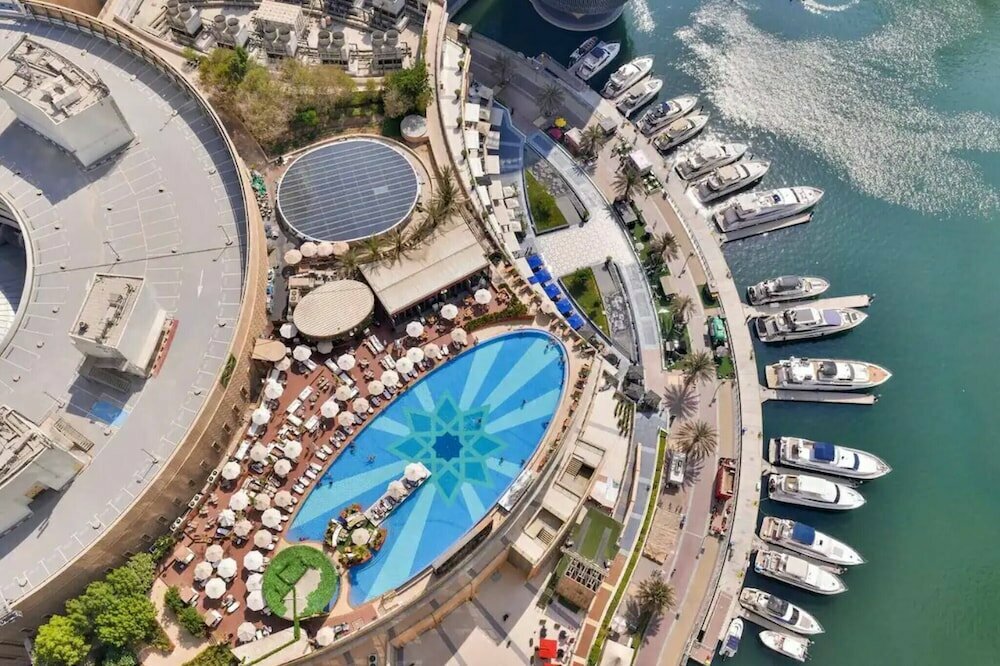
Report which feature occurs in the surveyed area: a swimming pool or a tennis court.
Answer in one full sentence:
Looking from above, you can make out a swimming pool.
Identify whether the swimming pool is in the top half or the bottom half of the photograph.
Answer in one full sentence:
Seen from above, the swimming pool lies in the bottom half of the view.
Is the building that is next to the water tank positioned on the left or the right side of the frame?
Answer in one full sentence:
You can find the building that is next to the water tank on the left side of the picture.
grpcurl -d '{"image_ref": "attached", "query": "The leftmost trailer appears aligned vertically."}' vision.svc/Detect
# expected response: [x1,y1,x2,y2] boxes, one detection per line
[668,453,688,496]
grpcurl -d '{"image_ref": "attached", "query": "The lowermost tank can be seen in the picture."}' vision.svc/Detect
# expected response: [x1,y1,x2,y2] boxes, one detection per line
[402,120,427,146]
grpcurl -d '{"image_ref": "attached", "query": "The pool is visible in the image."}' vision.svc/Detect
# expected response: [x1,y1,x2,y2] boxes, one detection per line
[279,325,573,615]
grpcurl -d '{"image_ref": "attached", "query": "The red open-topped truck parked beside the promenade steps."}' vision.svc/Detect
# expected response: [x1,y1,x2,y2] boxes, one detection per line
[713,458,736,503]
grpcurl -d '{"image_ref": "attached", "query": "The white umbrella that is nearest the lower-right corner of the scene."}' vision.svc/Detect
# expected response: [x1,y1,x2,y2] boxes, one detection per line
[609,613,631,636]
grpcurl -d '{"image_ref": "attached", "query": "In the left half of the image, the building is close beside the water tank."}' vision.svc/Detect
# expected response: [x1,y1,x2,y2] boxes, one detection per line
[276,139,420,251]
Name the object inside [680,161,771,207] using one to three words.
boat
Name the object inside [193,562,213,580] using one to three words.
umbrella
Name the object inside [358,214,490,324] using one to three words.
building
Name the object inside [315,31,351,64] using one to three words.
cooling tower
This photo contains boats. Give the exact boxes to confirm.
[735,277,827,312]
[568,37,596,65]
[599,60,652,107]
[572,46,619,84]
[664,145,746,186]
[759,629,811,661]
[748,535,846,598]
[719,619,743,657]
[635,100,696,142]
[616,83,662,122]
[701,188,823,242]
[761,427,891,483]
[742,307,866,349]
[758,464,864,516]
[755,511,864,568]
[754,355,890,395]
[733,571,822,638]
[649,116,708,156]
[680,161,771,207]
